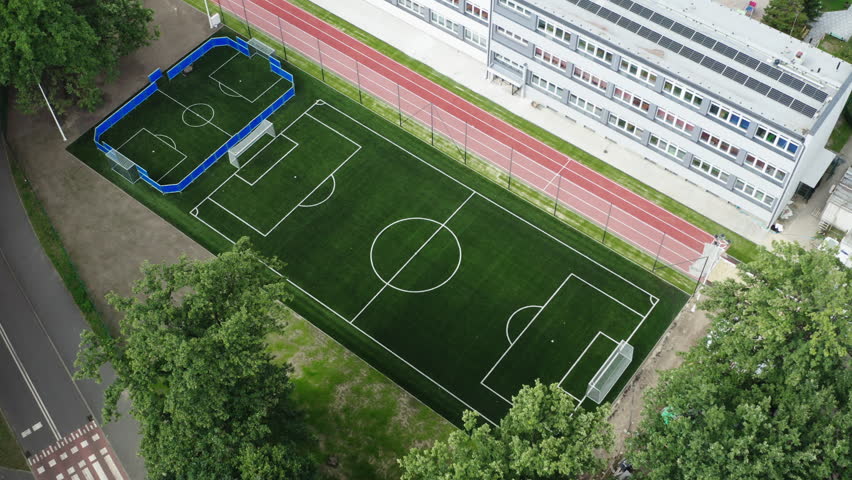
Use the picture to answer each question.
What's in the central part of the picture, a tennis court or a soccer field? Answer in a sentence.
You can see a soccer field in the central part of the picture.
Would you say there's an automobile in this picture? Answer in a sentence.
No, there is no automobile in the image.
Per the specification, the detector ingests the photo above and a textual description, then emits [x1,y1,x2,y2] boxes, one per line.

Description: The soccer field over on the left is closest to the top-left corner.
[62,24,317,215]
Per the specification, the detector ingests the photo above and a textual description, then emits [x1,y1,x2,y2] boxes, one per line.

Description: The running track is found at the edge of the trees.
[210,0,722,280]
